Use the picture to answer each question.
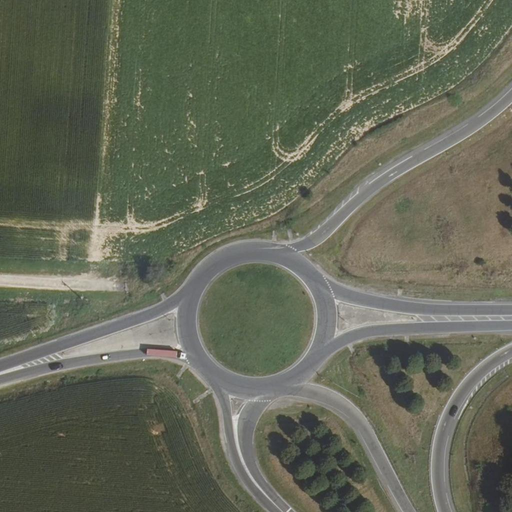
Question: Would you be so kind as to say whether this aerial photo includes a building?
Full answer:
No, no building is visible in the view.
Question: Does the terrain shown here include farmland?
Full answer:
Yes, farmland shows up in the scene.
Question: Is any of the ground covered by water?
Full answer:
No, there's no water in this view.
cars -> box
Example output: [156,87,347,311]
[450,405,458,416]
[100,354,108,360]
[49,363,62,369]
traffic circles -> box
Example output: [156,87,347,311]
[176,239,336,400]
